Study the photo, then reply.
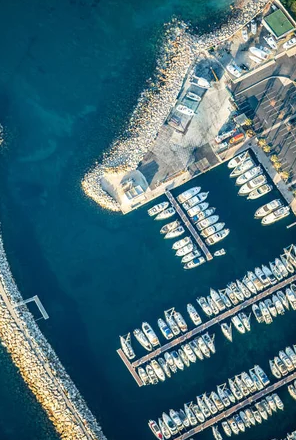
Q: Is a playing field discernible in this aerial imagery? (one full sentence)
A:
No, there's no playing field here.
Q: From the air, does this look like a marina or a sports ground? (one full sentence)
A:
This looks like a marina.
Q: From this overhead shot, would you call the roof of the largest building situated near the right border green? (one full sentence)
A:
Yes, the roof of the largest building situated near the right border appears green.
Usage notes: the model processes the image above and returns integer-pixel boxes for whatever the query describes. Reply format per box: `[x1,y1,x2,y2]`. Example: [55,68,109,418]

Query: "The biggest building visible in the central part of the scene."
[120,172,147,203]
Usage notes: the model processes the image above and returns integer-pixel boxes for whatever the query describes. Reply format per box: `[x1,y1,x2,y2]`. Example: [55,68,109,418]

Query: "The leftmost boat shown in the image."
[120,337,135,360]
